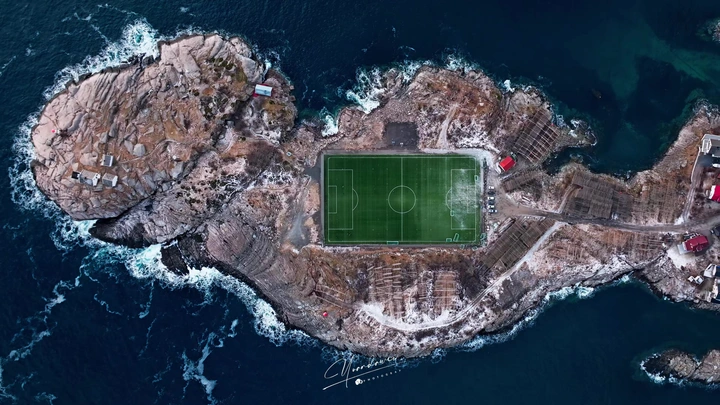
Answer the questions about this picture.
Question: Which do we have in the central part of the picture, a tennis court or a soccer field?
soccer field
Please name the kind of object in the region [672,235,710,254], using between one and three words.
house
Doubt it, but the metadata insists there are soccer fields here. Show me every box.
[323,153,482,245]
